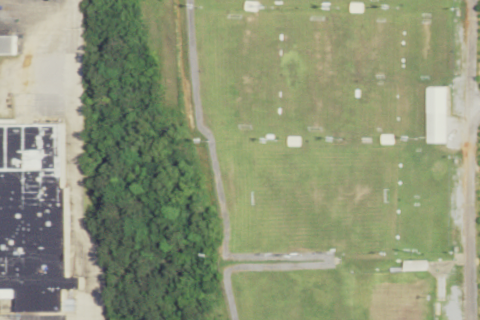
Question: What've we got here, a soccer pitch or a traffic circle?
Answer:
soccer pitch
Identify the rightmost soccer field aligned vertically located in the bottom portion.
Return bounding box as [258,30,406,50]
[402,153,448,247]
